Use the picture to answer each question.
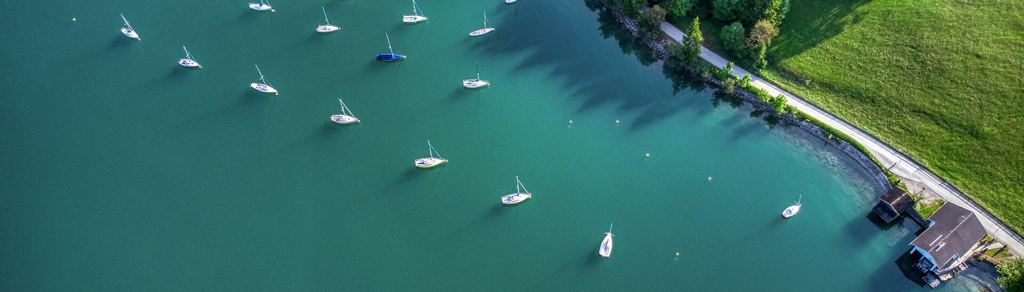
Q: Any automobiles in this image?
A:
No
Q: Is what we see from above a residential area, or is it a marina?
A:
marina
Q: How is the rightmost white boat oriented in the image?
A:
diagonally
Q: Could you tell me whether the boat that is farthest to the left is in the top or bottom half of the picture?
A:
top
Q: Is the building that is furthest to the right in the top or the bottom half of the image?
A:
bottom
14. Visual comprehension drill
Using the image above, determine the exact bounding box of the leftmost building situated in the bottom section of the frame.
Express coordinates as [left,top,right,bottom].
[871,186,914,223]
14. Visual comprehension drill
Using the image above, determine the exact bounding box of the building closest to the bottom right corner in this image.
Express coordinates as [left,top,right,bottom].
[904,202,989,285]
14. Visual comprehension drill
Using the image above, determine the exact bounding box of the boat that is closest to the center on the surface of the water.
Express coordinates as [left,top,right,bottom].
[502,177,530,205]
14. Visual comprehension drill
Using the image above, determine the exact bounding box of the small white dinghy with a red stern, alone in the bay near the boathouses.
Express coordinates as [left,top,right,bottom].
[781,195,801,219]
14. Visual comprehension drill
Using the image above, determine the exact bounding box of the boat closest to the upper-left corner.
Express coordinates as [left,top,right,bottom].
[120,15,140,41]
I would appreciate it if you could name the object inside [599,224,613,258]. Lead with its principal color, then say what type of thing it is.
white boat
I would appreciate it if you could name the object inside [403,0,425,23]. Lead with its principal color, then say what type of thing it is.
white boat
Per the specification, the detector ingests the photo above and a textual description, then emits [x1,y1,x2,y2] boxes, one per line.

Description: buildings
[904,202,989,285]
[871,186,914,223]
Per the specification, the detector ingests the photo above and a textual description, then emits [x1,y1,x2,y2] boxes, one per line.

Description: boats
[403,0,425,23]
[375,33,403,61]
[249,64,278,94]
[120,15,140,41]
[415,140,444,168]
[331,98,358,125]
[248,0,271,11]
[916,260,931,274]
[502,177,530,205]
[599,224,613,258]
[315,7,338,34]
[781,195,801,219]
[462,66,487,88]
[177,47,200,69]
[469,11,494,38]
